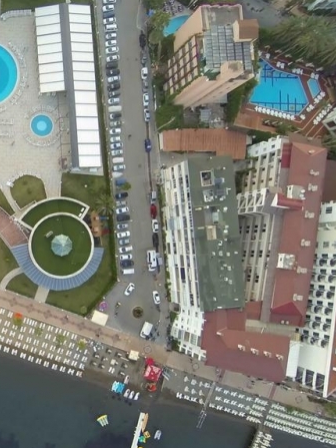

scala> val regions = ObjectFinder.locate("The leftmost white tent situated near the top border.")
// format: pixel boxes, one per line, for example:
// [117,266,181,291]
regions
[32,5,66,93]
